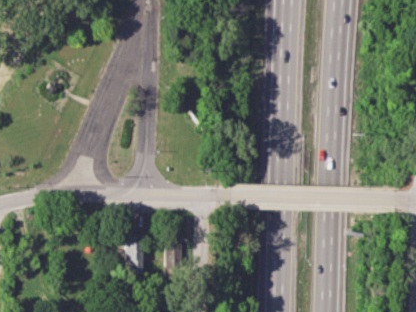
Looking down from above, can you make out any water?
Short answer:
No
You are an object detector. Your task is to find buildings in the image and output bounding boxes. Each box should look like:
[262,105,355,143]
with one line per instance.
[163,246,180,276]
[120,242,146,268]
